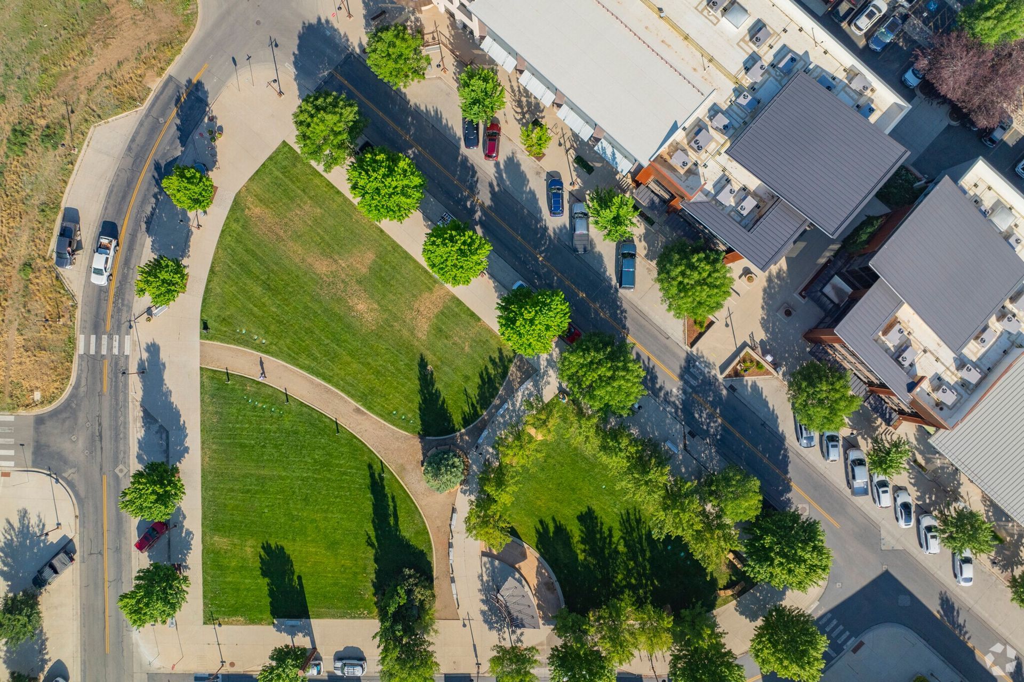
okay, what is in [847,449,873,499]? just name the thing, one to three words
truck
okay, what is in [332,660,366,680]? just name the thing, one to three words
car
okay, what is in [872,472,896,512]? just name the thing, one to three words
car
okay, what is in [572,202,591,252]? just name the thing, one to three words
vehicle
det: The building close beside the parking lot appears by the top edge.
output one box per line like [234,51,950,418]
[431,0,910,271]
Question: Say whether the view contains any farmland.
No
